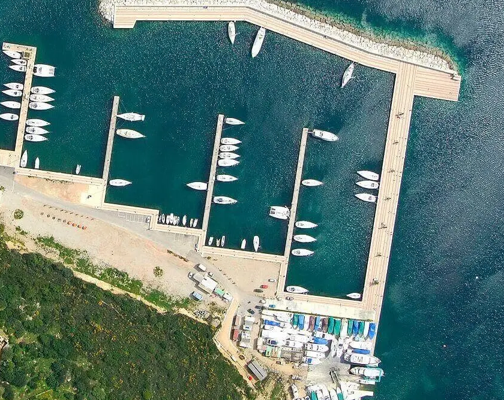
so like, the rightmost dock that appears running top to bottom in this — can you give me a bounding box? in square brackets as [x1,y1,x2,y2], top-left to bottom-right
[361,60,415,356]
